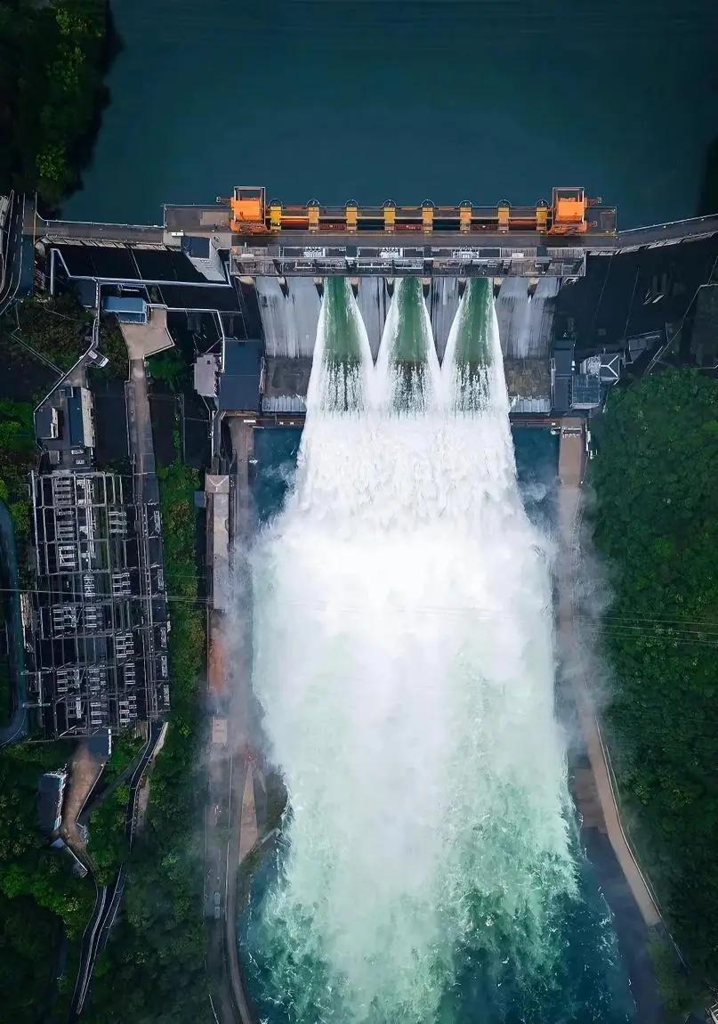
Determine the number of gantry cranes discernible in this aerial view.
2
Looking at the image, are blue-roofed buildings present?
Yes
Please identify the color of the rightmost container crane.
orange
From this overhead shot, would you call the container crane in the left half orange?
Yes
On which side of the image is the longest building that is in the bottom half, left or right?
left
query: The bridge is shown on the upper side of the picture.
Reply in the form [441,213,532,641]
[230,249,585,279]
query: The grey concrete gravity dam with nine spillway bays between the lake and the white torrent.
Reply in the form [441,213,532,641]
[33,205,718,415]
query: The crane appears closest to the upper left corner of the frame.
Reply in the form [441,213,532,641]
[217,187,271,237]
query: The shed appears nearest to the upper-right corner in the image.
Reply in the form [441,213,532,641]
[623,332,660,364]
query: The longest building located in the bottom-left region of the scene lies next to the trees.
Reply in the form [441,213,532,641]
[37,767,71,831]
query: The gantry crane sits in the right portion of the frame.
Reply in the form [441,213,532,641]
[542,187,600,237]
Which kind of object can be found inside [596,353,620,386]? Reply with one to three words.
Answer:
house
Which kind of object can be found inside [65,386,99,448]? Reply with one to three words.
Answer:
building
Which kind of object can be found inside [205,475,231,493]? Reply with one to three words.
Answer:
building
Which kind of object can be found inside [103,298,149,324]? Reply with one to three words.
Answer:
house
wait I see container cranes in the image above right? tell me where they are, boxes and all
[217,187,271,237]
[542,187,600,237]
